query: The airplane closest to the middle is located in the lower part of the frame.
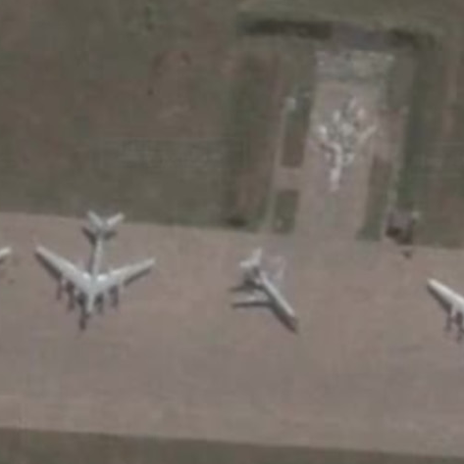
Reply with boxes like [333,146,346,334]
[235,249,300,324]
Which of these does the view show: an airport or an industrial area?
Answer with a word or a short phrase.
airport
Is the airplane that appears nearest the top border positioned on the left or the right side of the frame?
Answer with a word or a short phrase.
right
